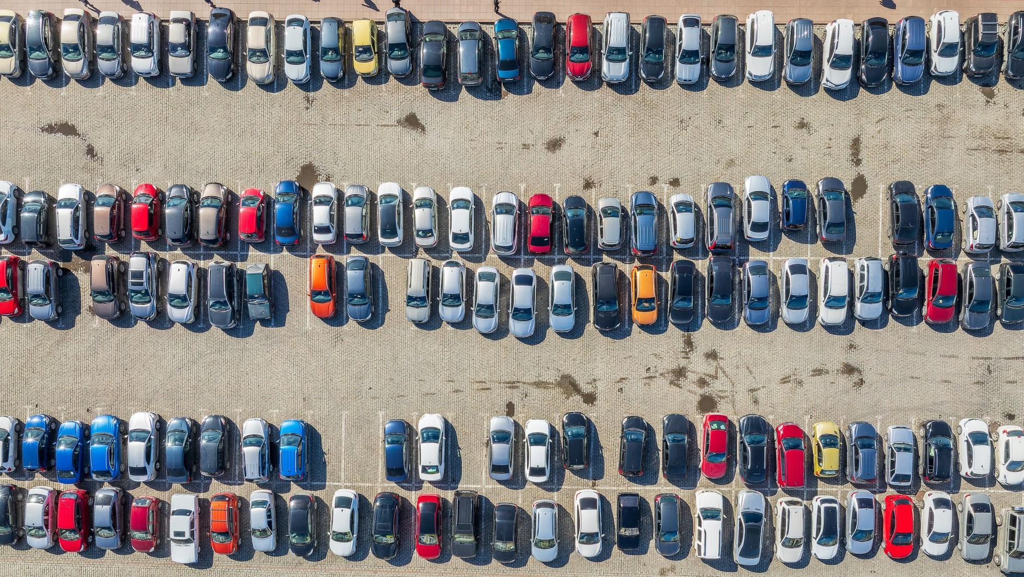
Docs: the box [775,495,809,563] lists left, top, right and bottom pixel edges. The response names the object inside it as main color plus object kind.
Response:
white car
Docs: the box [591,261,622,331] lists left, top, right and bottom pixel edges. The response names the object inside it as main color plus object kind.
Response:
black car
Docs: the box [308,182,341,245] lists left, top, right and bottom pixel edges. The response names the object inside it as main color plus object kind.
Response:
white car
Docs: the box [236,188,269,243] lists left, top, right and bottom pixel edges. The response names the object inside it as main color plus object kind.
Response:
red car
